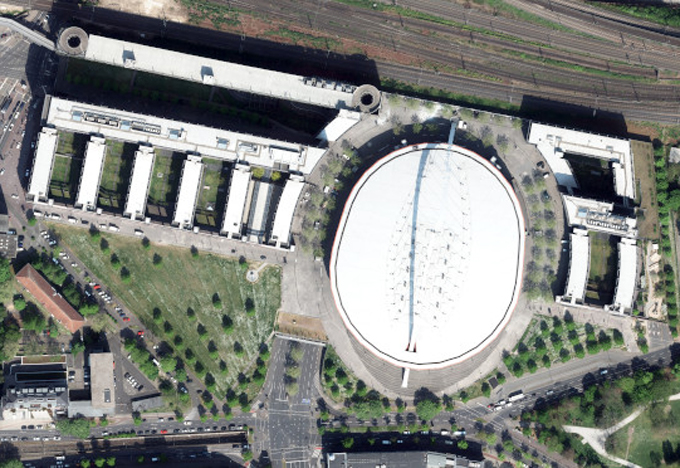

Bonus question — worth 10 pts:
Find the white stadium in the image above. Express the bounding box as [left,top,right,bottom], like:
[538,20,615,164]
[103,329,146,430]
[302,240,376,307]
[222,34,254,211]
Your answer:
[331,117,526,390]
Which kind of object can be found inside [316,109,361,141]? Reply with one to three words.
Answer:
building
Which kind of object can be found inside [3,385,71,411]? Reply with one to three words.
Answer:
building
